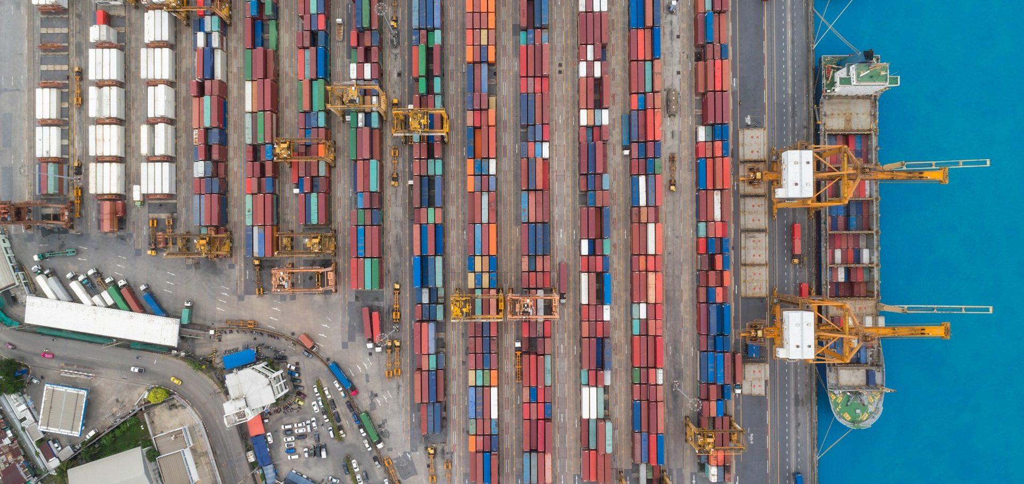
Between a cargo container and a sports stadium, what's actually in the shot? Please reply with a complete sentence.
This aerial view contains a cargo container.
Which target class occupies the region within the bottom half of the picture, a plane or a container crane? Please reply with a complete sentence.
The one visible within the bottom half of the picture is a container crane.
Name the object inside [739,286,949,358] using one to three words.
container crane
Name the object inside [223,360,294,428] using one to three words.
building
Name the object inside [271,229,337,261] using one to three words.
container crane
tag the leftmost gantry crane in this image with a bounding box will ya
[0,199,73,231]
